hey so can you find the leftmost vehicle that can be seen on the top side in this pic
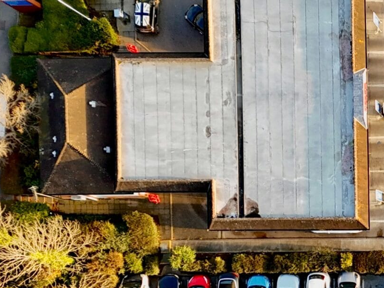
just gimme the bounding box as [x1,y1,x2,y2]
[136,0,163,34]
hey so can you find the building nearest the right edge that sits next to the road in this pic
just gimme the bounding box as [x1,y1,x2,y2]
[35,0,373,233]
